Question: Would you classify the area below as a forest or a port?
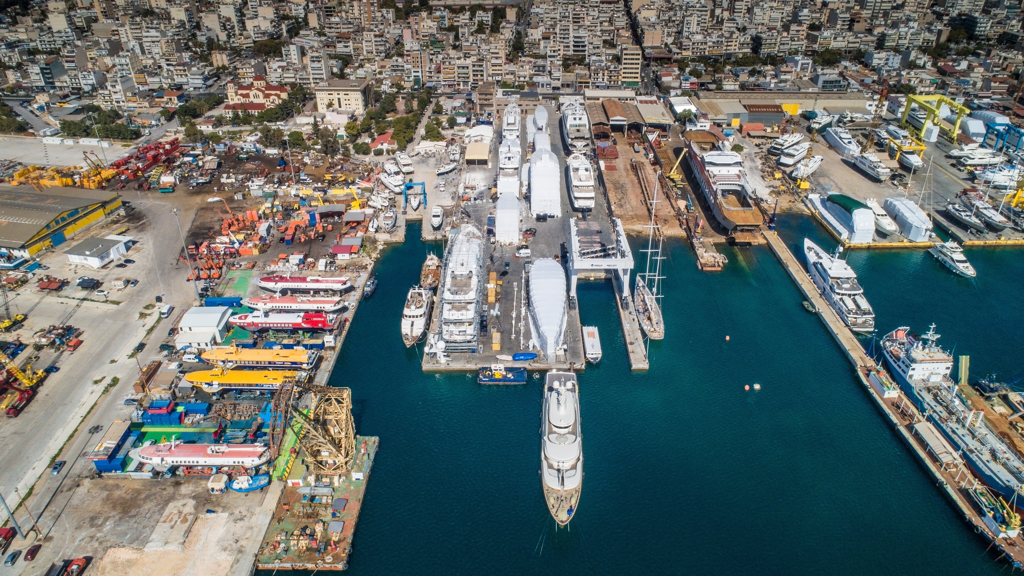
port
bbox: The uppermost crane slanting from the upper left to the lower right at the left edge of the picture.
[0,327,54,384]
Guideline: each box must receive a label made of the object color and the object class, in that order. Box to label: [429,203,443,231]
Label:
white boat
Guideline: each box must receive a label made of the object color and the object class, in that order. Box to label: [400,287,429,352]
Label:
white boat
